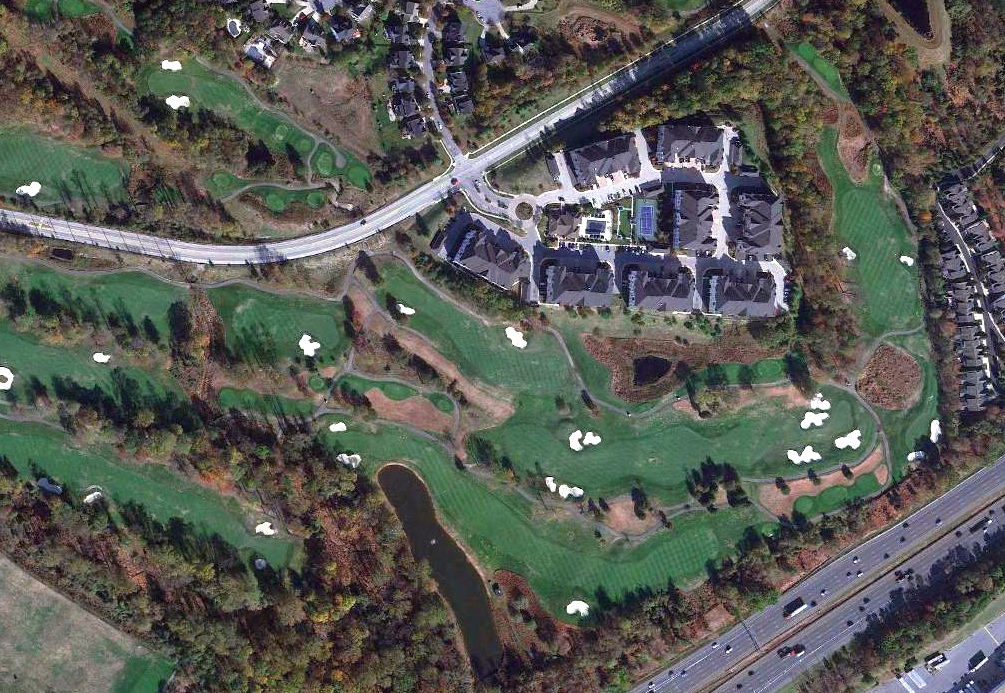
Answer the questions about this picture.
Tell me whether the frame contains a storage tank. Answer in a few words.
No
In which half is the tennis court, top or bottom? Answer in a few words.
top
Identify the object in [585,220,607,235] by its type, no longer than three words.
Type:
swimming pool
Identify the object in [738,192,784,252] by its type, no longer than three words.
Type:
building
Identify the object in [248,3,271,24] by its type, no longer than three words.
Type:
house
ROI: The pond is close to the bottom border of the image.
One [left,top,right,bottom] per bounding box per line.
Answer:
[376,463,503,687]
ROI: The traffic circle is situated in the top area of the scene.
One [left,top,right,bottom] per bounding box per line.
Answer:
[507,193,542,229]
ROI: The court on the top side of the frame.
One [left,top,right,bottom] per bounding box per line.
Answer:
[635,198,658,240]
